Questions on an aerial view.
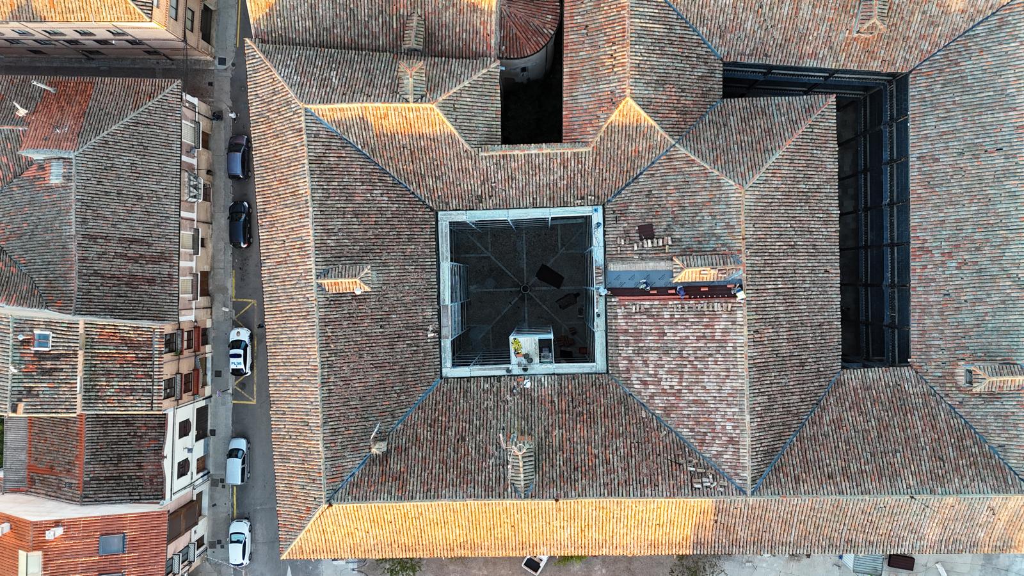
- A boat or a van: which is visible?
van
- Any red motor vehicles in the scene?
No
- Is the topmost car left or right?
left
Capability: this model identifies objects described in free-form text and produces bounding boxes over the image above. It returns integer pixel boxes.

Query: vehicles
[221,439,249,490]
[225,328,252,378]
[226,200,252,248]
[224,135,250,181]
[515,557,550,576]
[225,521,252,570]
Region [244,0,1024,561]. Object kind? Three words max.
building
